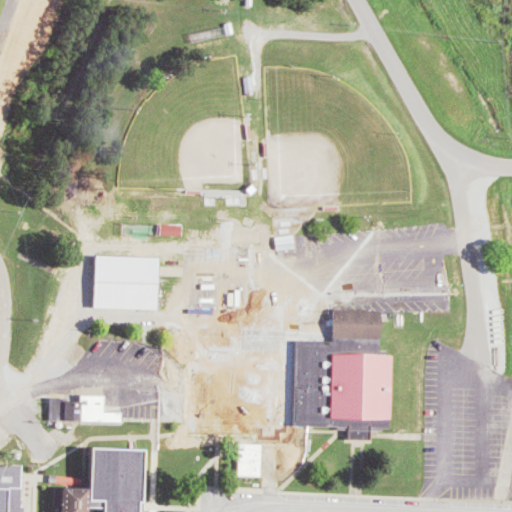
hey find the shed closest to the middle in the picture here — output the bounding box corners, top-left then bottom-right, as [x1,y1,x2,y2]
[274,236,296,251]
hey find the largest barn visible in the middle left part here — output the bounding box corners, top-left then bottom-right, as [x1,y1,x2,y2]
[94,257,159,310]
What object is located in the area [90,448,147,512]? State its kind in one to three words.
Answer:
building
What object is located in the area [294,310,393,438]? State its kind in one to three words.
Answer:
building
